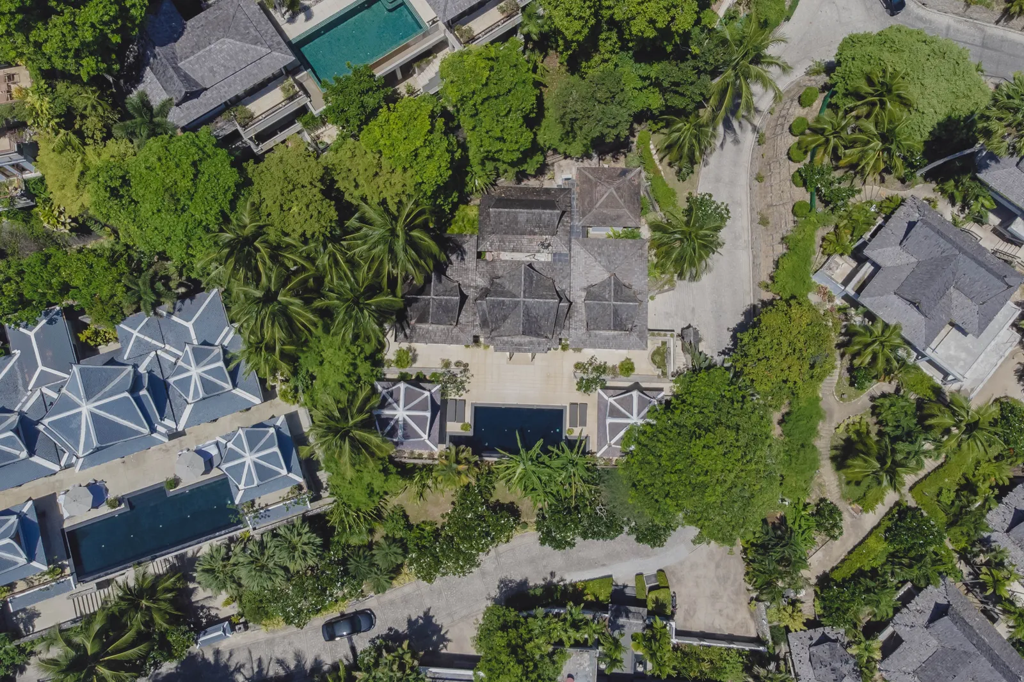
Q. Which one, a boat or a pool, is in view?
pool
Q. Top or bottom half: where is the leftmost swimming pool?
bottom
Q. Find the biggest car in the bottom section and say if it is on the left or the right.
left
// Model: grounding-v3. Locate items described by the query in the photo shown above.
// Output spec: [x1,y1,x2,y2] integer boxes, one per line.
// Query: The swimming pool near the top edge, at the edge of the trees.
[290,0,428,102]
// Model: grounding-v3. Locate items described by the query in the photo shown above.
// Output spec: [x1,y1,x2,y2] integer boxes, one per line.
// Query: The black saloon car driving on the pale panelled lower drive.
[320,608,377,641]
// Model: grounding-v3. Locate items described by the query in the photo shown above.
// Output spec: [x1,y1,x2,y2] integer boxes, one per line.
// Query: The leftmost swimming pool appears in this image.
[62,478,248,587]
